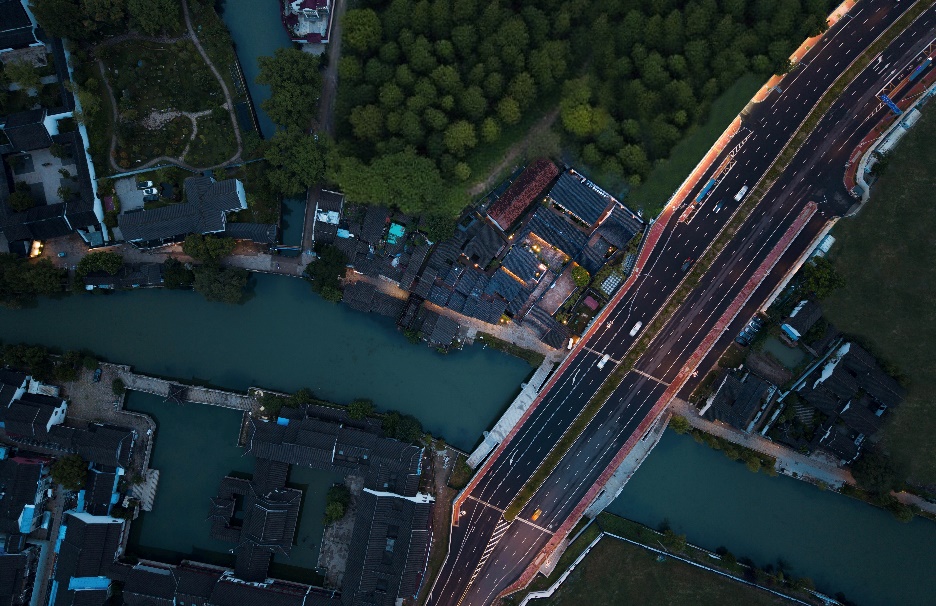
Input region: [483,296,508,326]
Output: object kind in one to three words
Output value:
house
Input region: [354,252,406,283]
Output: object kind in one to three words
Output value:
house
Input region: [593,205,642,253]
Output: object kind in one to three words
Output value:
building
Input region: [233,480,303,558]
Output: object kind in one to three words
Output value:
building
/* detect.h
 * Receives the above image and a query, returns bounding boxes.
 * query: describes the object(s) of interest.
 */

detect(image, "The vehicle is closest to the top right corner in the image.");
[734,186,748,201]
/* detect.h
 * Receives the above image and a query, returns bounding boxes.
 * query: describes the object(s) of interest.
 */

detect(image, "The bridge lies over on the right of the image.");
[463,345,679,541]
